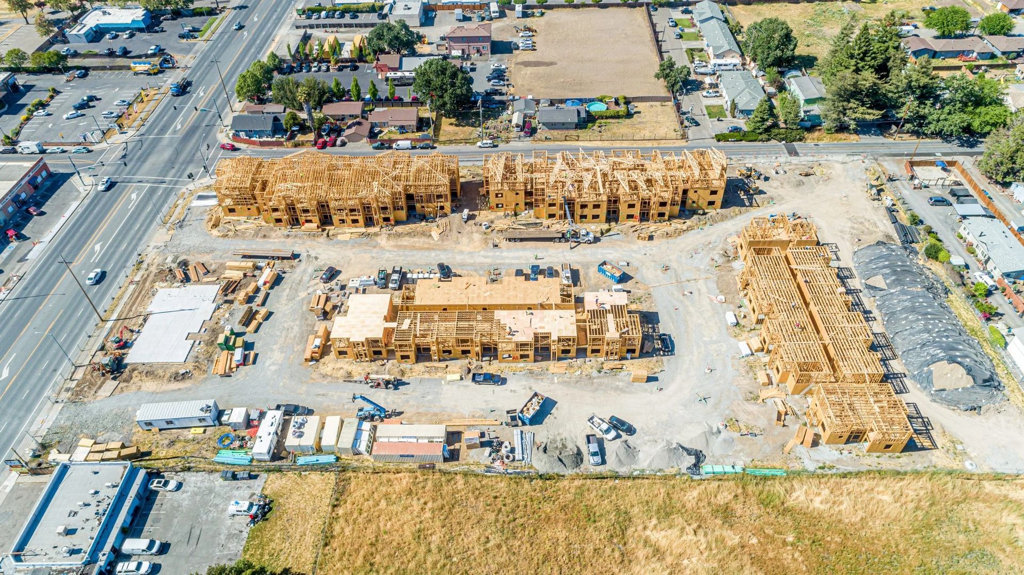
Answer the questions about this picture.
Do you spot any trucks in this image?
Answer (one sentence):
Yes, there is a truck in the image.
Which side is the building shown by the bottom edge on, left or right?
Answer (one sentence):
The building shown by the bottom edge appears in the left half of the scene.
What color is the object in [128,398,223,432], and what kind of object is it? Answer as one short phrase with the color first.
white trailer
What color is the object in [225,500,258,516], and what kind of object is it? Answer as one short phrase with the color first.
white car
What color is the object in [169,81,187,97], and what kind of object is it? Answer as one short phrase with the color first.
blue vehicle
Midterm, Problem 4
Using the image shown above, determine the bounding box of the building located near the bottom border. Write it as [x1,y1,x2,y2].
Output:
[8,461,156,575]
